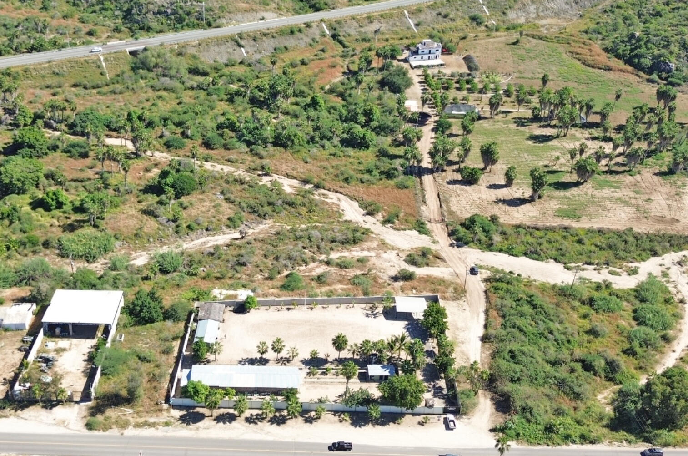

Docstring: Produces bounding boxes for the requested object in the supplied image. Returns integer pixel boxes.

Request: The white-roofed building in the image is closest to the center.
[395,297,426,321]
